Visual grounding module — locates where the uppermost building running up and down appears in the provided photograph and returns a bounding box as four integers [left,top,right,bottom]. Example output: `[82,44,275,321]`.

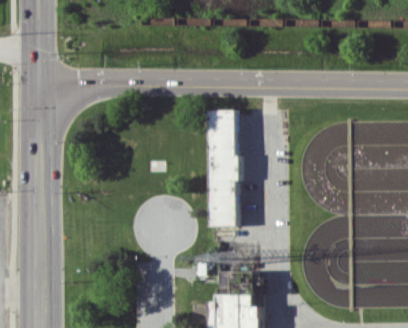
[208,109,244,227]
